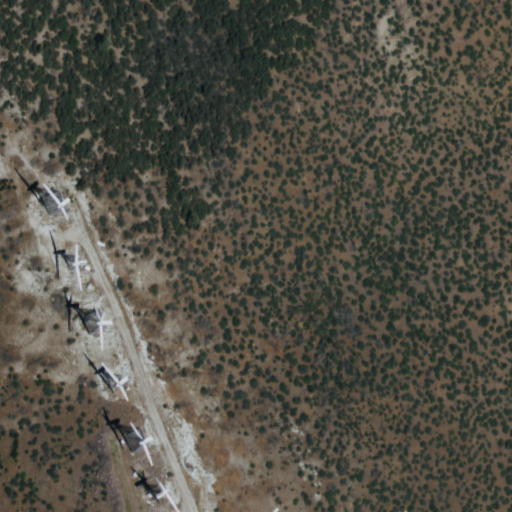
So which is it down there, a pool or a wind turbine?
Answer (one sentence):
The one in the frame is a wind turbine.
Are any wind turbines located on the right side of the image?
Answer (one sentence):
No, no wind turbine appears on the right side of the image.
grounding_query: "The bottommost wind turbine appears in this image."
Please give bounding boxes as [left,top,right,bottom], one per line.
[147,478,180,512]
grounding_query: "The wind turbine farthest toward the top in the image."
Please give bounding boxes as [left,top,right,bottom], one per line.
[41,184,71,221]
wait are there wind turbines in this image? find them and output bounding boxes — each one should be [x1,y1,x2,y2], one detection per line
[147,478,180,512]
[80,308,112,350]
[101,363,128,399]
[122,424,154,465]
[65,244,88,290]
[41,184,71,221]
